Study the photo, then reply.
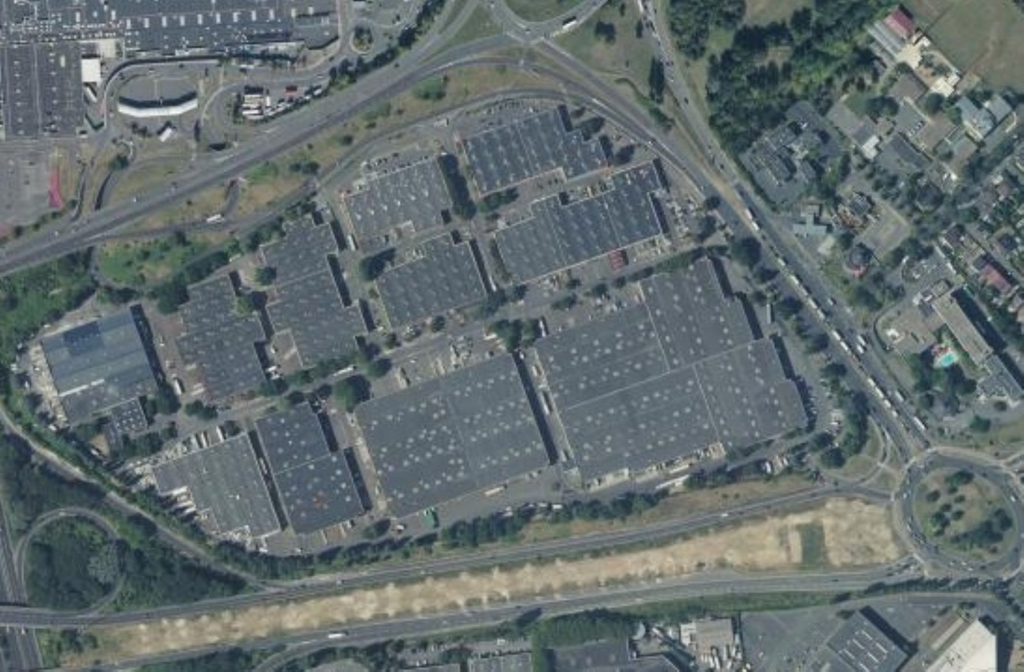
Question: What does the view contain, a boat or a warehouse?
warehouse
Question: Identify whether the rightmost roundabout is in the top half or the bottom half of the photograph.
bottom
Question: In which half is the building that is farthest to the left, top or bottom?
top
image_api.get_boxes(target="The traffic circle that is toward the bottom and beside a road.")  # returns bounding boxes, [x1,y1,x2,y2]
[892,441,1024,584]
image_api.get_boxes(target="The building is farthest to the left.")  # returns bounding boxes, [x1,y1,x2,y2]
[1,41,87,140]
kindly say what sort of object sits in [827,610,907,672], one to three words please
building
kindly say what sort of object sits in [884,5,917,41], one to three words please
barn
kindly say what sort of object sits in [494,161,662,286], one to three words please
warehouse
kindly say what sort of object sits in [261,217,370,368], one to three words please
building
